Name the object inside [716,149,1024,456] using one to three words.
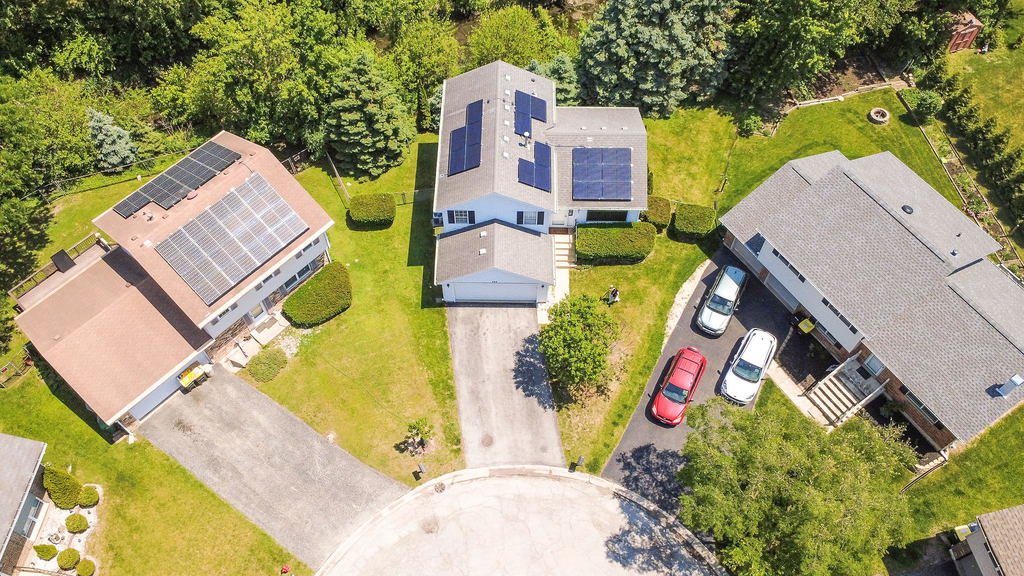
house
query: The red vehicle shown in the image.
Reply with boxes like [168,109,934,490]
[653,344,707,423]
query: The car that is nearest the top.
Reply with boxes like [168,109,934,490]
[696,261,750,340]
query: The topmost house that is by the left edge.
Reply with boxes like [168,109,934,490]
[7,132,336,450]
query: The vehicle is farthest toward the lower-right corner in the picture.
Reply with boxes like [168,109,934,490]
[720,326,779,409]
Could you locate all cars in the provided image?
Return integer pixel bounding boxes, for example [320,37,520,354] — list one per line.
[696,261,750,340]
[720,326,779,409]
[653,344,707,423]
